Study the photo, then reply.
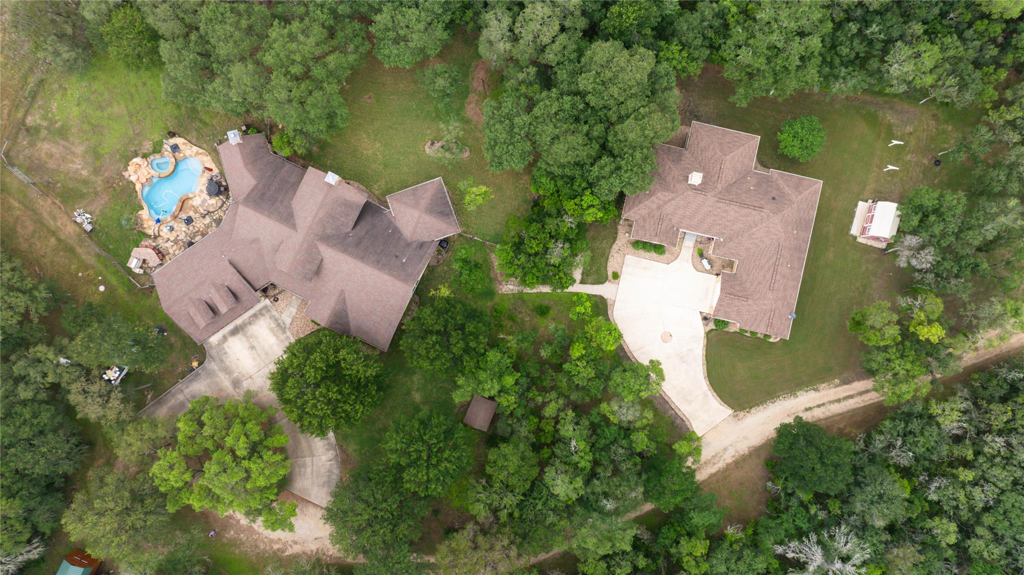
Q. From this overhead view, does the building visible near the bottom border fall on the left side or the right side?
left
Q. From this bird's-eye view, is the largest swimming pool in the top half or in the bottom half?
top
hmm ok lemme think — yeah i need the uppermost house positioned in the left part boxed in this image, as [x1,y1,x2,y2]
[152,129,461,352]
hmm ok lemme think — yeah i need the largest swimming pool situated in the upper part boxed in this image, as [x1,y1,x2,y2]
[137,156,202,223]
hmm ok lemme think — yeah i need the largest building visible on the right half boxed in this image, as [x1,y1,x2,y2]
[621,121,823,340]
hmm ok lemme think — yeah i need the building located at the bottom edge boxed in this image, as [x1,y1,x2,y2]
[58,546,115,575]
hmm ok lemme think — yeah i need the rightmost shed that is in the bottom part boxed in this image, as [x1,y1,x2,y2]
[463,396,494,434]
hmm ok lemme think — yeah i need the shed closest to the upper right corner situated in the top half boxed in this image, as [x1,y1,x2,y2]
[851,200,903,243]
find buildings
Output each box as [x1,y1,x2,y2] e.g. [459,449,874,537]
[851,200,903,243]
[621,121,823,340]
[152,129,461,352]
[58,546,115,575]
[463,396,494,434]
